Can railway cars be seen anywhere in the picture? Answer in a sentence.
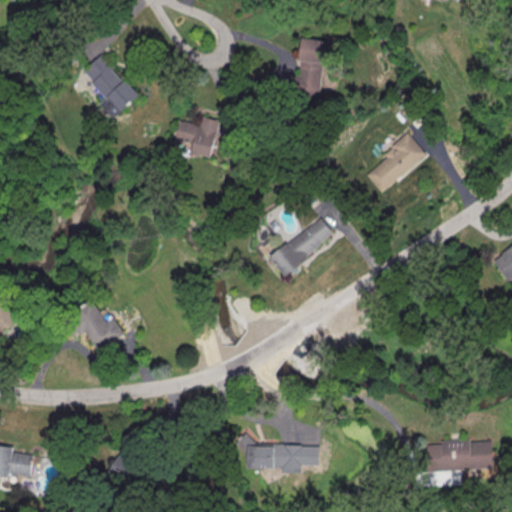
No, the frame has no railway car in it.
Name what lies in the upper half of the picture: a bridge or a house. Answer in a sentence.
The one visible in the upper half of the picture is a house.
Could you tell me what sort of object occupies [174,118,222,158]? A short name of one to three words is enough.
house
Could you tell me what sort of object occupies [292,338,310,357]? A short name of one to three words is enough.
car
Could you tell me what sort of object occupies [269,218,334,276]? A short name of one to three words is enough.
house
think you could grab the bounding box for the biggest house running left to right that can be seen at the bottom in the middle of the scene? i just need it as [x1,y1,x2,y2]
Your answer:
[246,445,320,474]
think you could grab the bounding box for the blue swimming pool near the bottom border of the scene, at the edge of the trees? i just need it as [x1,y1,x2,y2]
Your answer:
[44,465,62,494]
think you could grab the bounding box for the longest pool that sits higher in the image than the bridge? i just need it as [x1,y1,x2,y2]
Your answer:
[281,210,298,234]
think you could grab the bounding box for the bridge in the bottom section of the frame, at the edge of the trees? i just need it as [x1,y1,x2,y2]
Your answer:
[219,294,300,374]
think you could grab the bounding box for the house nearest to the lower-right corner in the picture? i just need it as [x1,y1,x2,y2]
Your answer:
[420,440,496,488]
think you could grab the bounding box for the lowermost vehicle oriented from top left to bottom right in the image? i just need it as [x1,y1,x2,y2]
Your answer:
[324,214,338,229]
